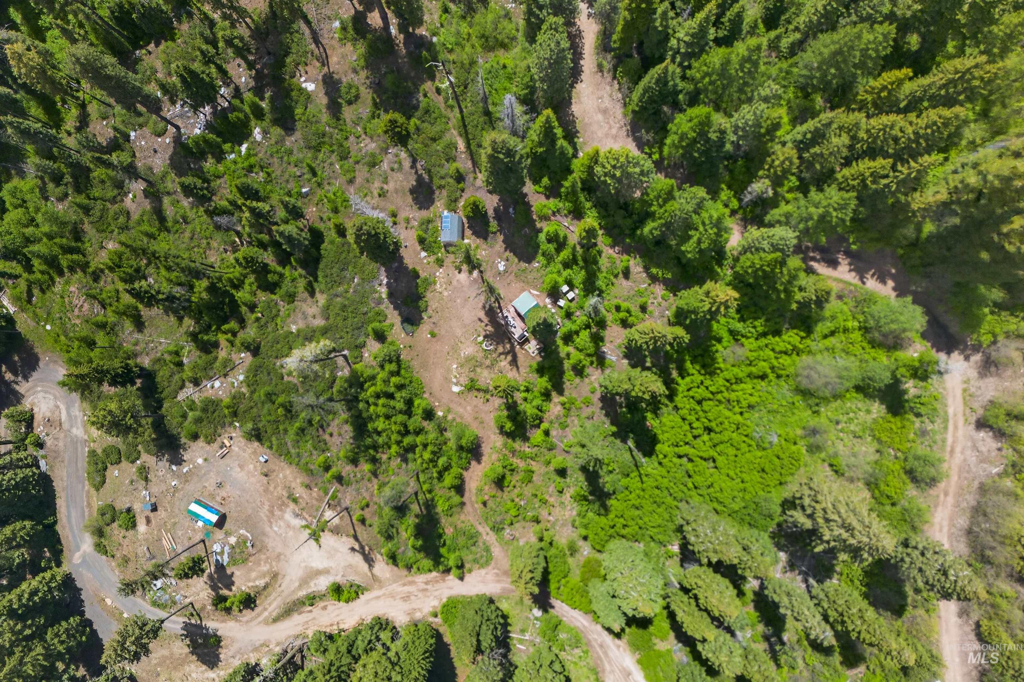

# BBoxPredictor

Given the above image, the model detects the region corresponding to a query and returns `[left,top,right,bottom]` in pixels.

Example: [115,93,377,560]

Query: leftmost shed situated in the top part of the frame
[440,213,464,244]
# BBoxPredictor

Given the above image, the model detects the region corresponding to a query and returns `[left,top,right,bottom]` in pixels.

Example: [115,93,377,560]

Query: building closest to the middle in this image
[510,286,541,318]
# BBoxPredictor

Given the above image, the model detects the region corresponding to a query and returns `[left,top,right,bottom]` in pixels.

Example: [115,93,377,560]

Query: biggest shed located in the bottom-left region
[189,497,228,527]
